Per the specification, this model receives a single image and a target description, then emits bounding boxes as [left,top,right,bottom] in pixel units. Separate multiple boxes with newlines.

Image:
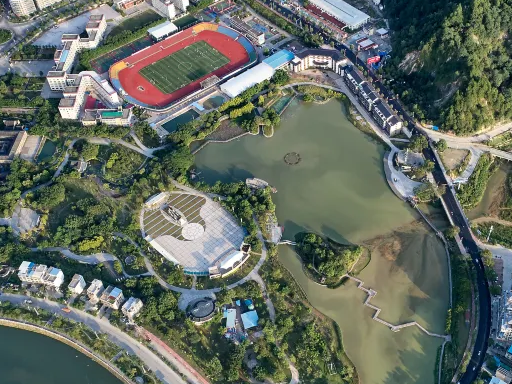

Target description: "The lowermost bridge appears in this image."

[347,274,451,341]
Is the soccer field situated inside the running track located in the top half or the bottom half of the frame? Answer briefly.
top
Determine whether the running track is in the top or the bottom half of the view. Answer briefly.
top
